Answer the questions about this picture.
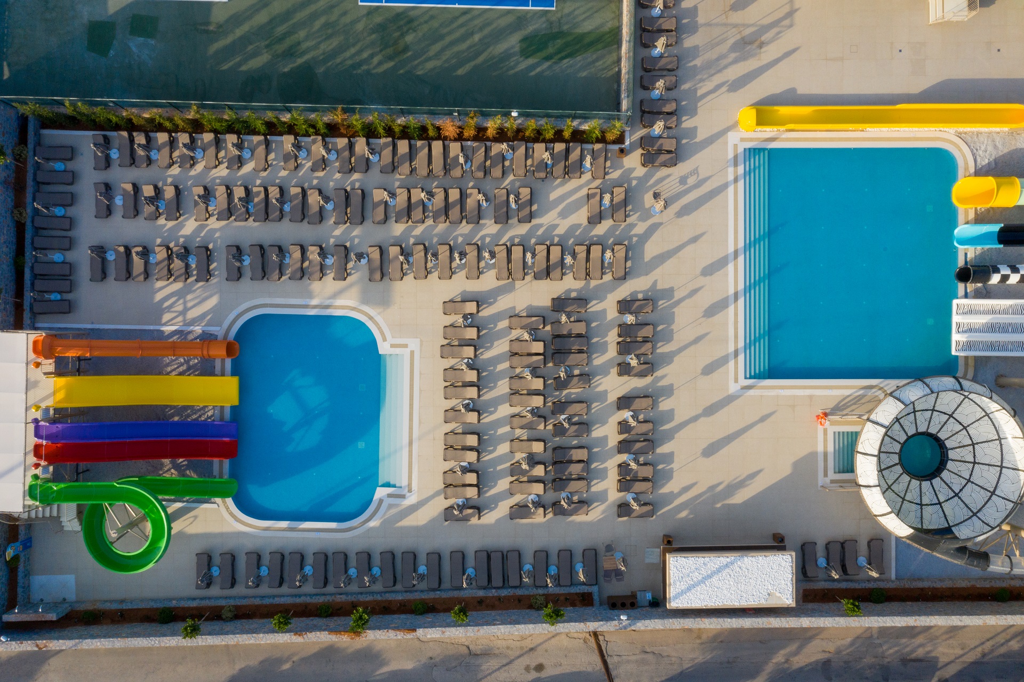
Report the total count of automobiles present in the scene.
zero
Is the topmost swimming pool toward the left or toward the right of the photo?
right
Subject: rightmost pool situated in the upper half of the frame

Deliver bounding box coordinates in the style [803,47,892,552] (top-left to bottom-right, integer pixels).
[729,133,974,394]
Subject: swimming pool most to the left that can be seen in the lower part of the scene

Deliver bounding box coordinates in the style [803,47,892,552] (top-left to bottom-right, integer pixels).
[213,299,419,537]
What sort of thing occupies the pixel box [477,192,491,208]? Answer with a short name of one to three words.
umbrella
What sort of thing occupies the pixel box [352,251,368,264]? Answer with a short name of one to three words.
umbrella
